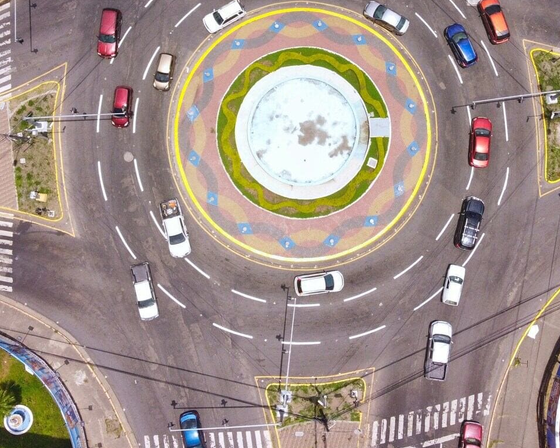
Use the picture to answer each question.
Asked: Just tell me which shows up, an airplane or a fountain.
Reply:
fountain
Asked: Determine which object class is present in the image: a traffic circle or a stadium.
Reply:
traffic circle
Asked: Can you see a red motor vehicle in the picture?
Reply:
Yes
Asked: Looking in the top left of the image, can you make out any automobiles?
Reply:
Yes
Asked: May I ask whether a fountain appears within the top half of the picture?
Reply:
Yes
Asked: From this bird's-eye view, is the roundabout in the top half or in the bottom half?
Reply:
top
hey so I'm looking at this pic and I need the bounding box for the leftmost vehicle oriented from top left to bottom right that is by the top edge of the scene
[363,0,412,36]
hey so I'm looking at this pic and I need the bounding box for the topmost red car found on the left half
[95,7,123,58]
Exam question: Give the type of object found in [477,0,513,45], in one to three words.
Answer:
car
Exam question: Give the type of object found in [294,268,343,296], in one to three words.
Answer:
car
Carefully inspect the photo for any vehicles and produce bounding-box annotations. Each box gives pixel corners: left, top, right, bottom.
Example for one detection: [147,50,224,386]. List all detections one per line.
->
[477,0,513,45]
[203,0,247,32]
[459,420,486,448]
[95,7,123,58]
[441,264,467,306]
[151,52,176,92]
[469,117,494,168]
[109,85,134,128]
[443,21,480,70]
[426,320,454,382]
[159,198,190,257]
[294,268,343,296]
[129,262,160,320]
[454,196,485,250]
[363,0,412,36]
